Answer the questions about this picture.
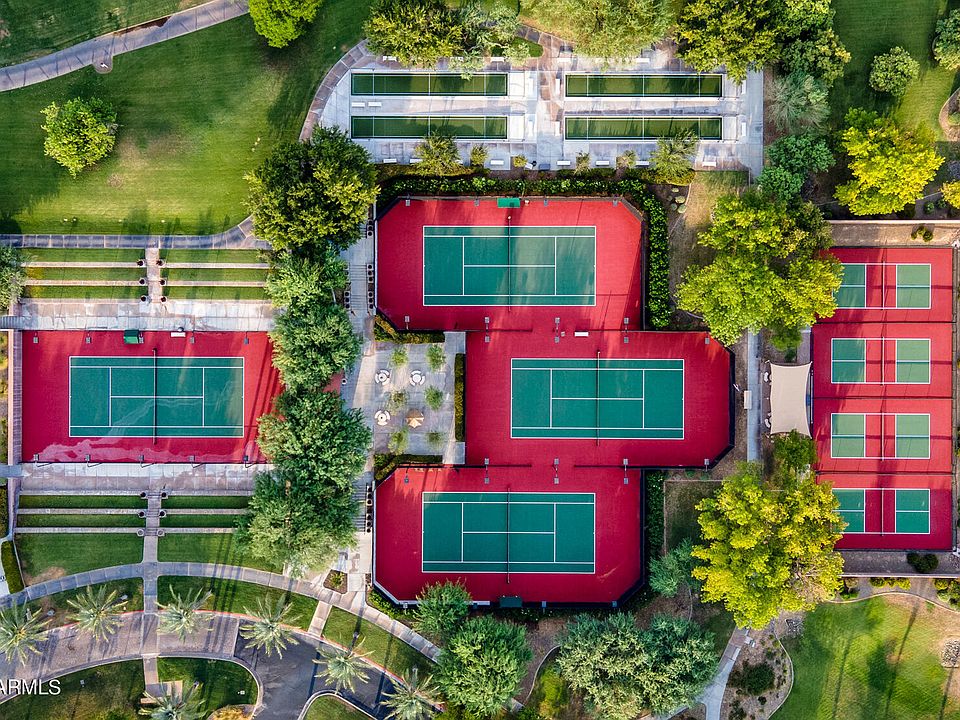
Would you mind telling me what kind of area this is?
sports ground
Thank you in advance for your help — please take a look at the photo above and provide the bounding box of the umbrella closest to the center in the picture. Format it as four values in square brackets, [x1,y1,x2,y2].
[404,412,423,431]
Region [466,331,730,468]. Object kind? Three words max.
tennis court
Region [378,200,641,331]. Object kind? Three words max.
tennis court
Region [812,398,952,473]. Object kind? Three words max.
sports court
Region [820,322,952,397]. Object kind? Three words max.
sports court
